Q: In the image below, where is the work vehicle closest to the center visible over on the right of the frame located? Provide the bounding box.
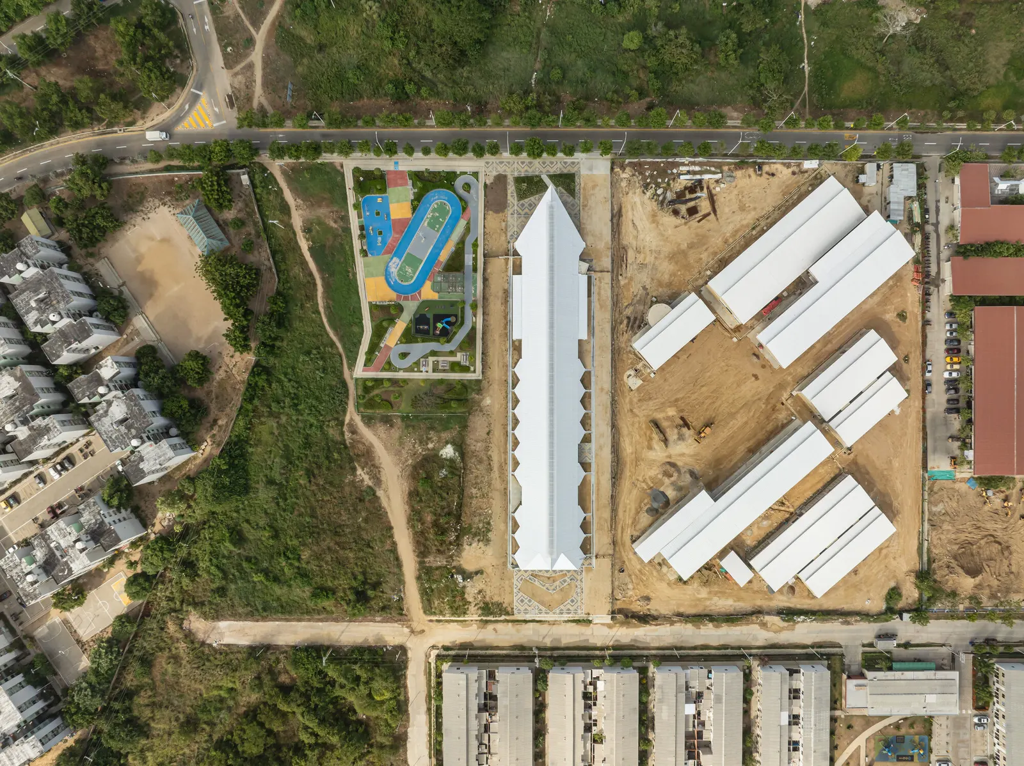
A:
[694,422,717,445]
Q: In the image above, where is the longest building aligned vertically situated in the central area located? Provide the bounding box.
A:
[513,186,588,570]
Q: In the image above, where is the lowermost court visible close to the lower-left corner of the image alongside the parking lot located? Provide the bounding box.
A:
[34,618,89,685]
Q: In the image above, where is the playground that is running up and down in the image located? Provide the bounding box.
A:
[362,195,392,256]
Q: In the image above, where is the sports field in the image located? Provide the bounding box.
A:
[120,208,231,365]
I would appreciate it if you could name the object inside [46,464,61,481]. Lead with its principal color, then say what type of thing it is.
white car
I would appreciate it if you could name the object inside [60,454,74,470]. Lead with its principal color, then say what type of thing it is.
gray car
